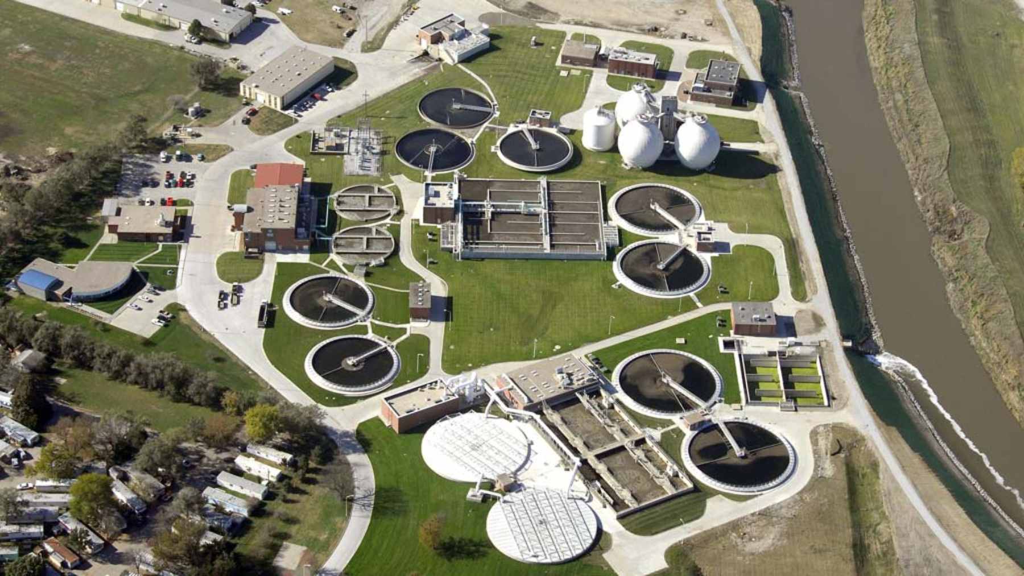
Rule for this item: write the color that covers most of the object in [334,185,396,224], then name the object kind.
gray storage tank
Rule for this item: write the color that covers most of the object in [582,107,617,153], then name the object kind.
white storage tank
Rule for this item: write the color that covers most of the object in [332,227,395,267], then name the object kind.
gray storage tank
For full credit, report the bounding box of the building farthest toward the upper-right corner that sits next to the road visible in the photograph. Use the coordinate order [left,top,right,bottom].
[690,60,744,106]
